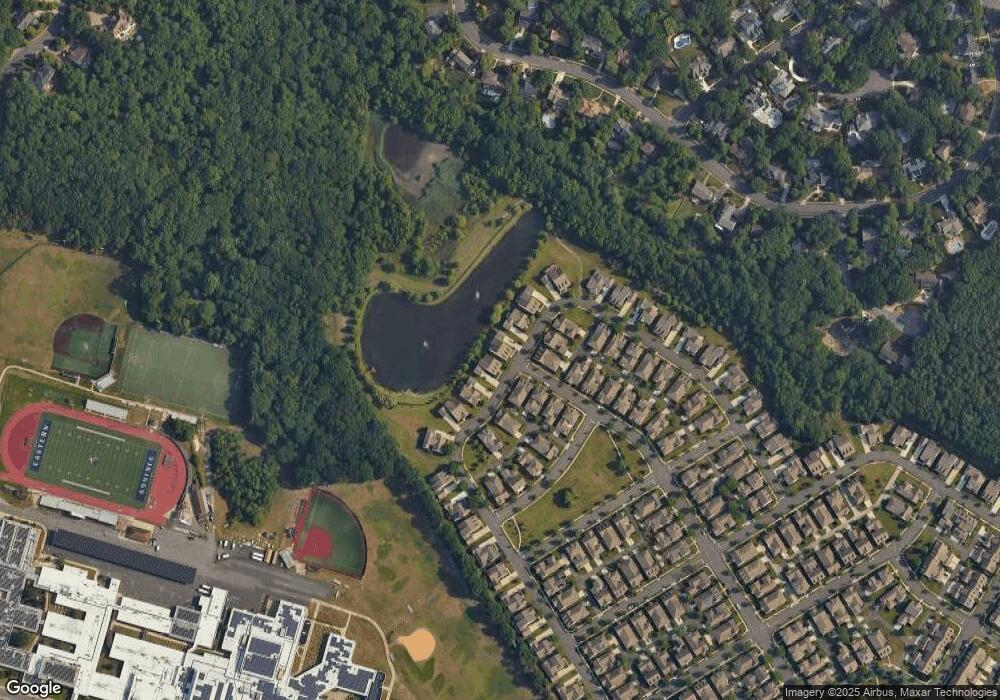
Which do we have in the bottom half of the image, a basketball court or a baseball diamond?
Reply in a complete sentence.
Visible in the bottom half of the image is a baseball diamond.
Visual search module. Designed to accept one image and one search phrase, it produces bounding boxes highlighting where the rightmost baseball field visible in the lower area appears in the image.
[391,628,436,662]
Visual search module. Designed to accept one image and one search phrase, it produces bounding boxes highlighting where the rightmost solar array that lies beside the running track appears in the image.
[51,529,197,585]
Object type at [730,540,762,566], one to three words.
house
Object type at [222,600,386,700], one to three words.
building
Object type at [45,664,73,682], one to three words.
solar array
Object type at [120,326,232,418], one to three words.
sports field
